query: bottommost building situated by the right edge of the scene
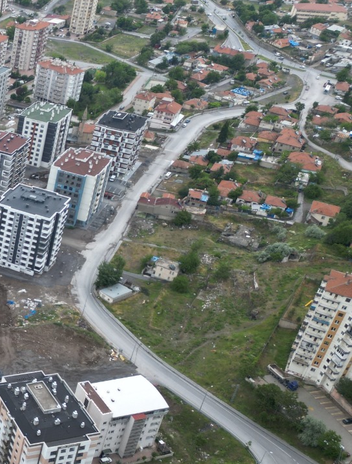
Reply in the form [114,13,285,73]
[292,266,352,389]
